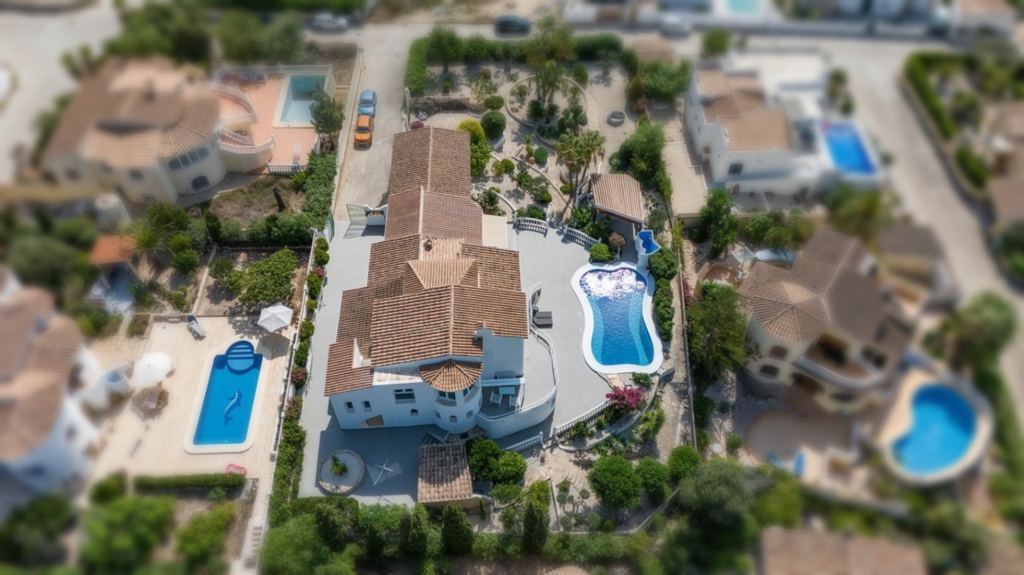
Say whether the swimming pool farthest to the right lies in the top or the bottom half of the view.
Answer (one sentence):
Seen from above, the swimming pool farthest to the right lies in the bottom half of the view.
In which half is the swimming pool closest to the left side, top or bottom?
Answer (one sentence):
The swimming pool closest to the left side is in the bottom half of the image.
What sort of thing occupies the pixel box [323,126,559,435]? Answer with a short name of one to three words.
house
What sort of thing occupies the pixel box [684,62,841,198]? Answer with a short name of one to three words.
house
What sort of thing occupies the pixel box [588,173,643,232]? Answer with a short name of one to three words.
building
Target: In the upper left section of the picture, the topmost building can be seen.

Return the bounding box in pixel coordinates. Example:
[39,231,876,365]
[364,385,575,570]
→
[36,62,262,206]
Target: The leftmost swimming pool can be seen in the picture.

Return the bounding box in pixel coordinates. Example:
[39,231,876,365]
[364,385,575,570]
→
[185,334,269,454]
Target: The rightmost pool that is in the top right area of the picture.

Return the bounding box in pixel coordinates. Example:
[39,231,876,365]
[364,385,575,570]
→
[809,117,890,192]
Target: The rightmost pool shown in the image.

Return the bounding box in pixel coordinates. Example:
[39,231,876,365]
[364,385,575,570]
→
[873,371,989,493]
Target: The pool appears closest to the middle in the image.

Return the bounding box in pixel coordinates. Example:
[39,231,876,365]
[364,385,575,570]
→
[572,261,663,373]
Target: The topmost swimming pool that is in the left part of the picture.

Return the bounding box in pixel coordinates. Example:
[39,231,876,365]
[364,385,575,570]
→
[274,73,329,126]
